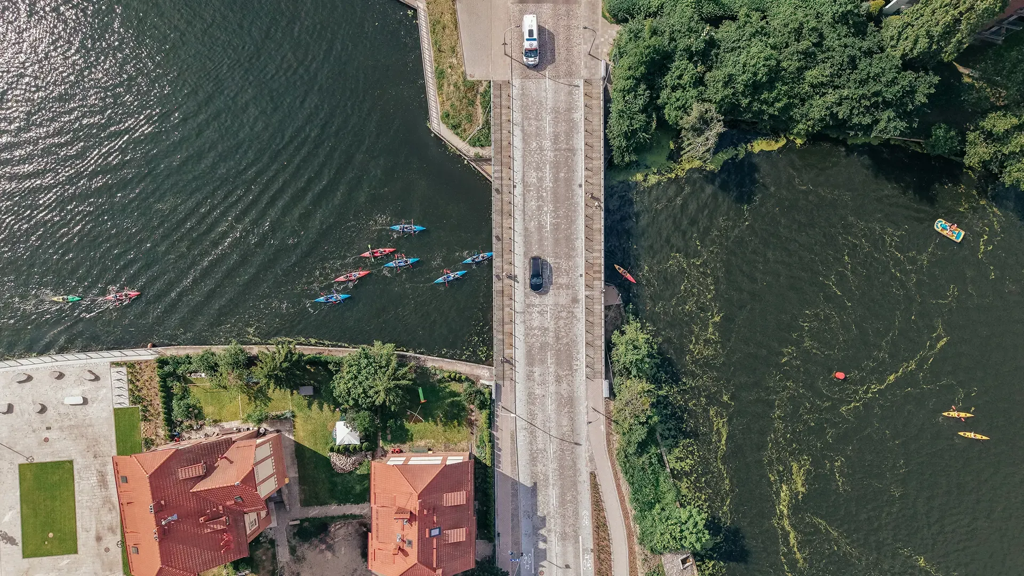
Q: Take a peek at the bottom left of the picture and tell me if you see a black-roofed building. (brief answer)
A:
No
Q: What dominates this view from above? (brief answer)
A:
water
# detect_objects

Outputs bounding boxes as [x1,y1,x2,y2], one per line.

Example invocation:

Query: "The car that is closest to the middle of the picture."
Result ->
[529,256,544,292]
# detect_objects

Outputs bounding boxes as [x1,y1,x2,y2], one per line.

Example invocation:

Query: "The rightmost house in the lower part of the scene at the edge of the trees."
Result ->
[370,450,475,576]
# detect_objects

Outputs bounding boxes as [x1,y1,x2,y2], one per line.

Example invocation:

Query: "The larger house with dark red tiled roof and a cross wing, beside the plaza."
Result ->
[112,429,300,576]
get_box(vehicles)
[529,256,544,292]
[523,11,540,63]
